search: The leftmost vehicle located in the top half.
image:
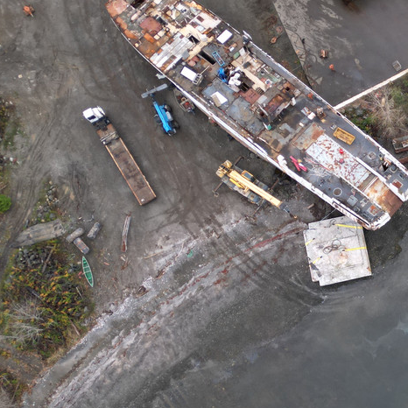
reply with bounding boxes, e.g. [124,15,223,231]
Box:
[82,106,155,205]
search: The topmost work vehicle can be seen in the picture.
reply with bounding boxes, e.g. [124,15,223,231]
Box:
[141,88,176,135]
